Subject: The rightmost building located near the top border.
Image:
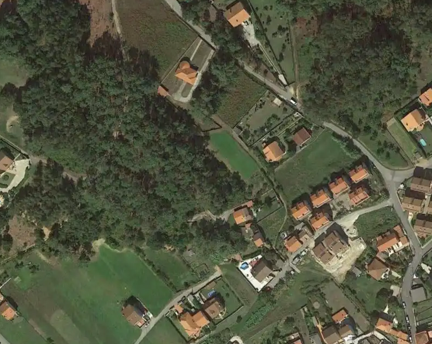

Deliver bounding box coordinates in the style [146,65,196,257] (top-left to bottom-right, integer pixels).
[223,1,250,27]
